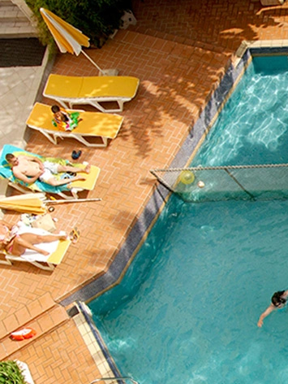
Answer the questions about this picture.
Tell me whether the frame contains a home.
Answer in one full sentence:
No, I find no home anywhere in the image.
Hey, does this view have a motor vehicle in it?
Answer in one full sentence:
No, the photo shows no motor vehicle.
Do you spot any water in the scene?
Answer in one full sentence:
Yes, there is water in the image.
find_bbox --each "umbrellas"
[39,8,116,76]
[0,193,100,216]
